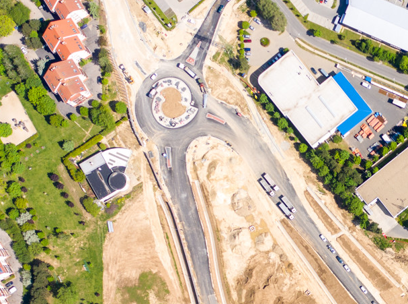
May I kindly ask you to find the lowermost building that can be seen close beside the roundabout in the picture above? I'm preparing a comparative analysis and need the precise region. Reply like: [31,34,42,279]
[79,148,135,205]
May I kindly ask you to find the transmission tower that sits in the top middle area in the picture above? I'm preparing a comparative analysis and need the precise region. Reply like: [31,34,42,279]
[213,38,238,57]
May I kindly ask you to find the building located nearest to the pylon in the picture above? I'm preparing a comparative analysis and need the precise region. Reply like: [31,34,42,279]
[259,50,372,149]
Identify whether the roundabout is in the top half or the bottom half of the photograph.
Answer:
top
